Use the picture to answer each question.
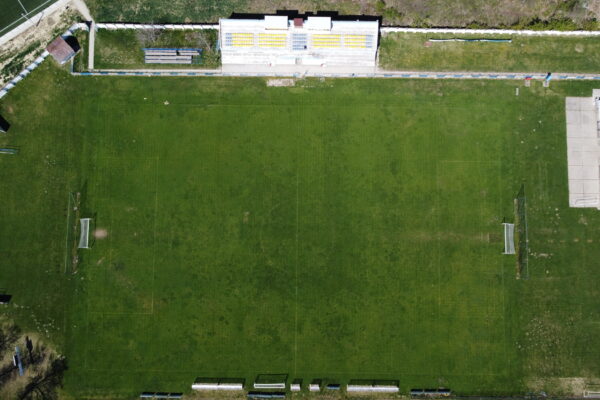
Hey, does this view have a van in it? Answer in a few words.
No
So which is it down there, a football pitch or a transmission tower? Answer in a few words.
football pitch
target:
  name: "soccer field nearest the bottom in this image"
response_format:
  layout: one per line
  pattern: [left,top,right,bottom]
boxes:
[62,90,521,391]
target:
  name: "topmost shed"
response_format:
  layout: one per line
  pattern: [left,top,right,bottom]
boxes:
[47,36,78,66]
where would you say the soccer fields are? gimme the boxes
[62,90,521,391]
[0,0,68,46]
